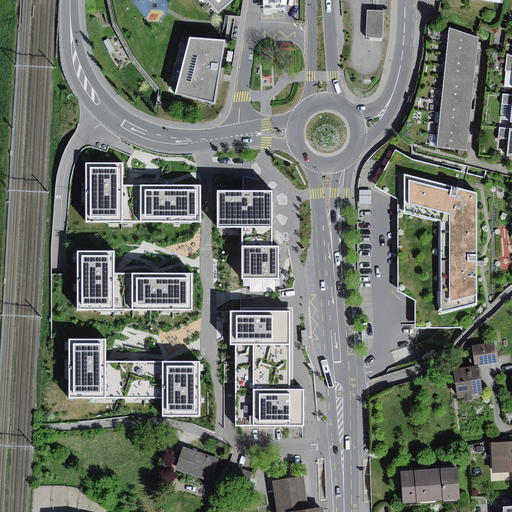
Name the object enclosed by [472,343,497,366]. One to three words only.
house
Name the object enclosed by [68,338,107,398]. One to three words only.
building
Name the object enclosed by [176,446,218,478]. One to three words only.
house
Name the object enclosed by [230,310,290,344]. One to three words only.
building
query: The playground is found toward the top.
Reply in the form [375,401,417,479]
[135,0,169,22]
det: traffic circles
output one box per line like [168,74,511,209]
[288,93,367,172]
